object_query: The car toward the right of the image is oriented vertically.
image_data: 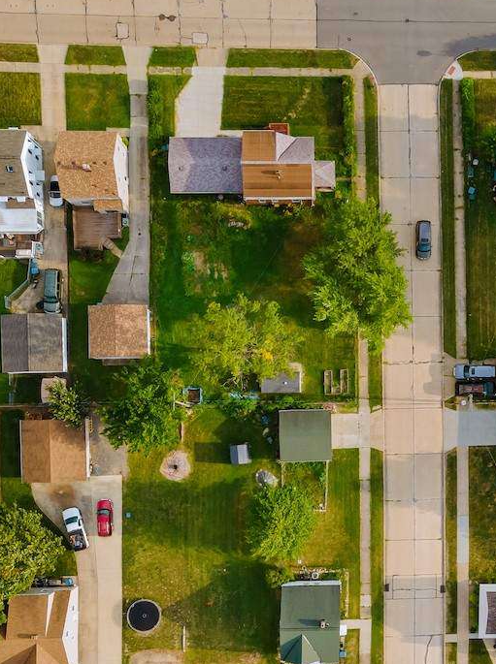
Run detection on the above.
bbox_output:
[415,221,432,260]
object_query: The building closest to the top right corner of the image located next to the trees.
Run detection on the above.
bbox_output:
[170,123,336,201]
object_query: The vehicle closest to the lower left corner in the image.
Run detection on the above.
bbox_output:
[60,506,89,551]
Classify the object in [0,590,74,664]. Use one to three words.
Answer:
house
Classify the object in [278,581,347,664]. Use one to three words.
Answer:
house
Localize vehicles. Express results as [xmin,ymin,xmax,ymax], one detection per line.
[41,272,61,310]
[47,175,65,210]
[415,221,432,260]
[94,499,113,538]
[456,380,496,398]
[453,363,495,381]
[60,506,89,551]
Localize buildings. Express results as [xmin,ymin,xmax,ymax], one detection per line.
[0,130,50,234]
[88,304,149,359]
[20,420,90,483]
[0,590,74,664]
[229,443,251,464]
[170,123,336,201]
[0,313,67,374]
[56,131,127,215]
[261,365,300,393]
[477,581,496,638]
[278,581,347,664]
[279,409,332,462]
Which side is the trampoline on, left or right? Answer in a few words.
left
